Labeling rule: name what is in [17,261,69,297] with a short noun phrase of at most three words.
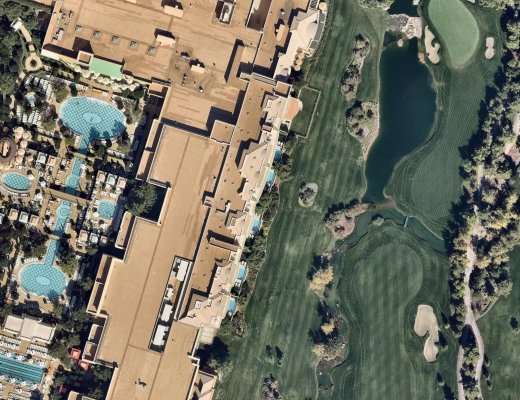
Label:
swimming pool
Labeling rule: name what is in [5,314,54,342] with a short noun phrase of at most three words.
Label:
building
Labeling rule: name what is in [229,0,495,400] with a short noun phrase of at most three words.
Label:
golf course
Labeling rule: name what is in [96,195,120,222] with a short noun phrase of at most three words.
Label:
swimming pool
